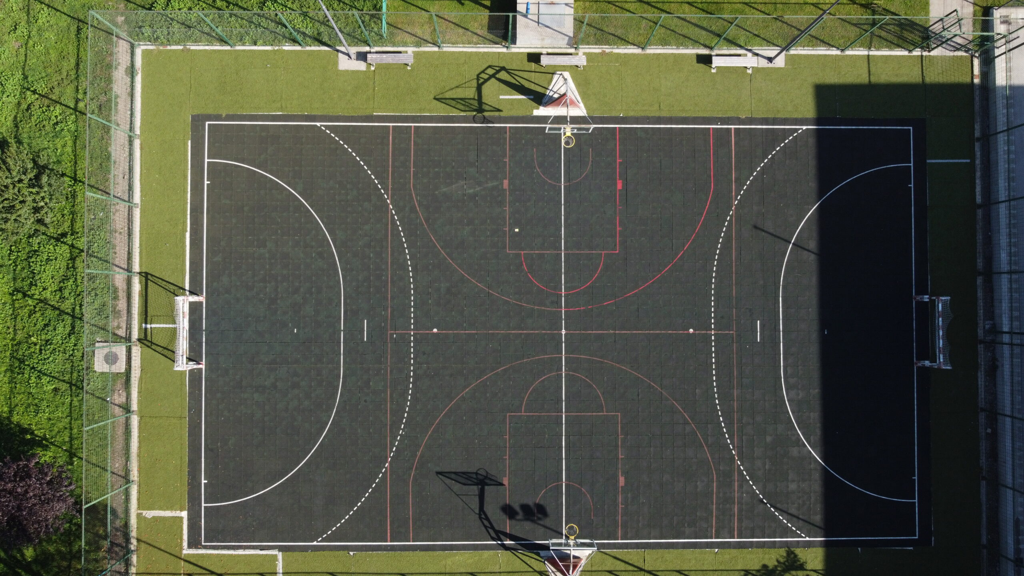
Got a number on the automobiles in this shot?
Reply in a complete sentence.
No automobiles are visible.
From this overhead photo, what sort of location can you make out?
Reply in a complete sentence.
What you see here is a sports ground.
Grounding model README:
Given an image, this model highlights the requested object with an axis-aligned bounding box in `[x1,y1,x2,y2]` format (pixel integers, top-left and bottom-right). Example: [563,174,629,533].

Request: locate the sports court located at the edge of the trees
[143,95,970,552]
